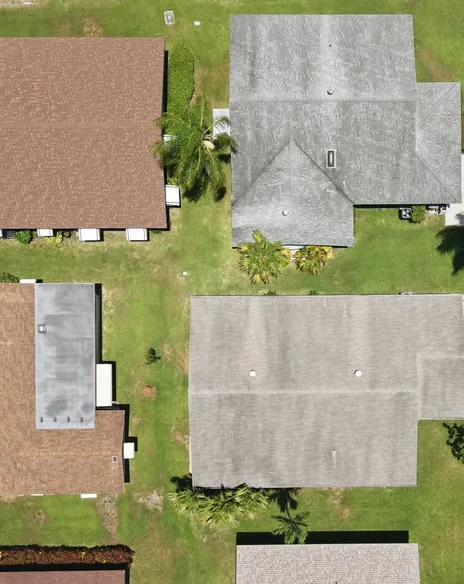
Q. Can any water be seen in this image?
No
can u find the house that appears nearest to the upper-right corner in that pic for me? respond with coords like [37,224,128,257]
[228,15,462,248]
